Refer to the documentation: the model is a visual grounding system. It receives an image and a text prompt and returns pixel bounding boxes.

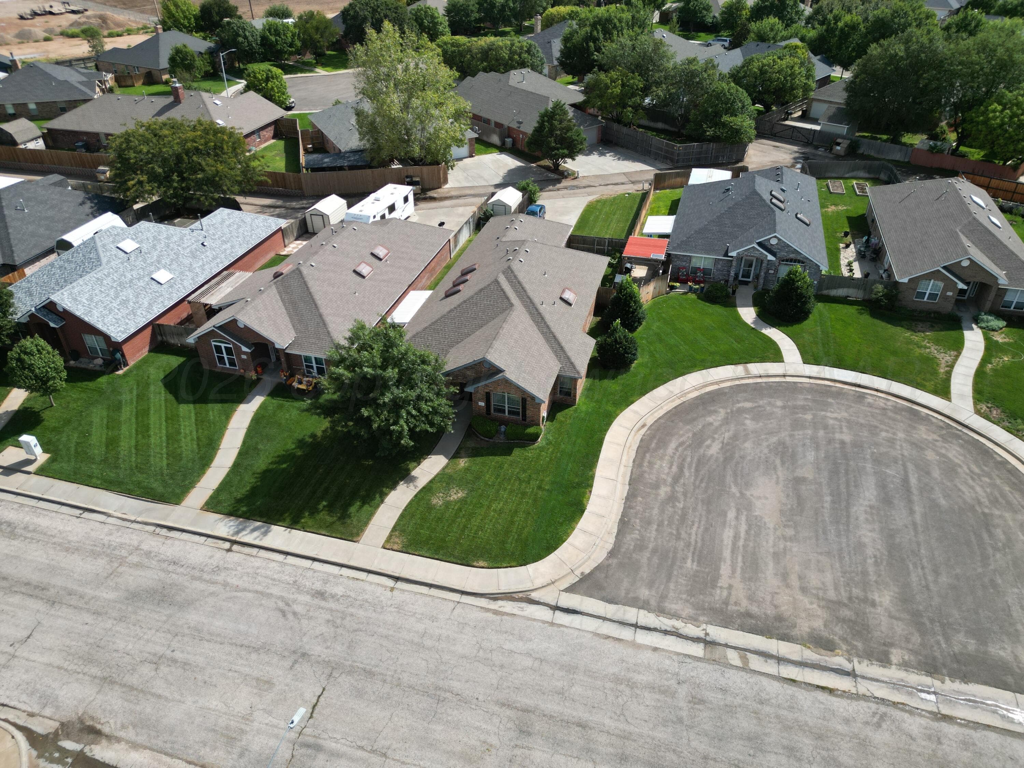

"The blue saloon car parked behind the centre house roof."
[523,197,555,218]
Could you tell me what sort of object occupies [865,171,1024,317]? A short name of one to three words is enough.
house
